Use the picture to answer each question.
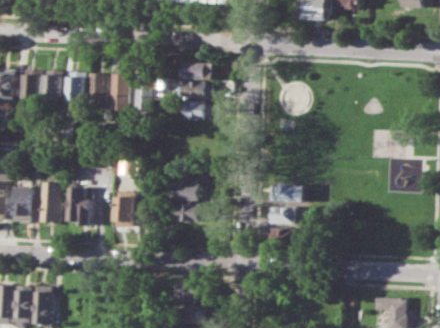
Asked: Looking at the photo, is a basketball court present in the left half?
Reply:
No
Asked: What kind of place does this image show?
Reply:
residential area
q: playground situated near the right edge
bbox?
[388,159,423,192]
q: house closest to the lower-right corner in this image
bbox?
[377,296,410,328]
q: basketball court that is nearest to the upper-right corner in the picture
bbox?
[372,130,414,159]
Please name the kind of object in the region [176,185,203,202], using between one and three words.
house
